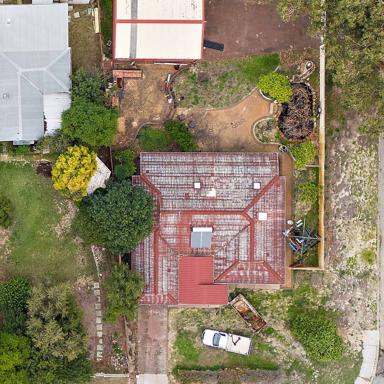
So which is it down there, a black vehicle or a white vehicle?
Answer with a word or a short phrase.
white vehicle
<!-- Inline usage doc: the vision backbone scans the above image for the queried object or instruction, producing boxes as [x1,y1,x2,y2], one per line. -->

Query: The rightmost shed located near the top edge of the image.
[114,0,204,61]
